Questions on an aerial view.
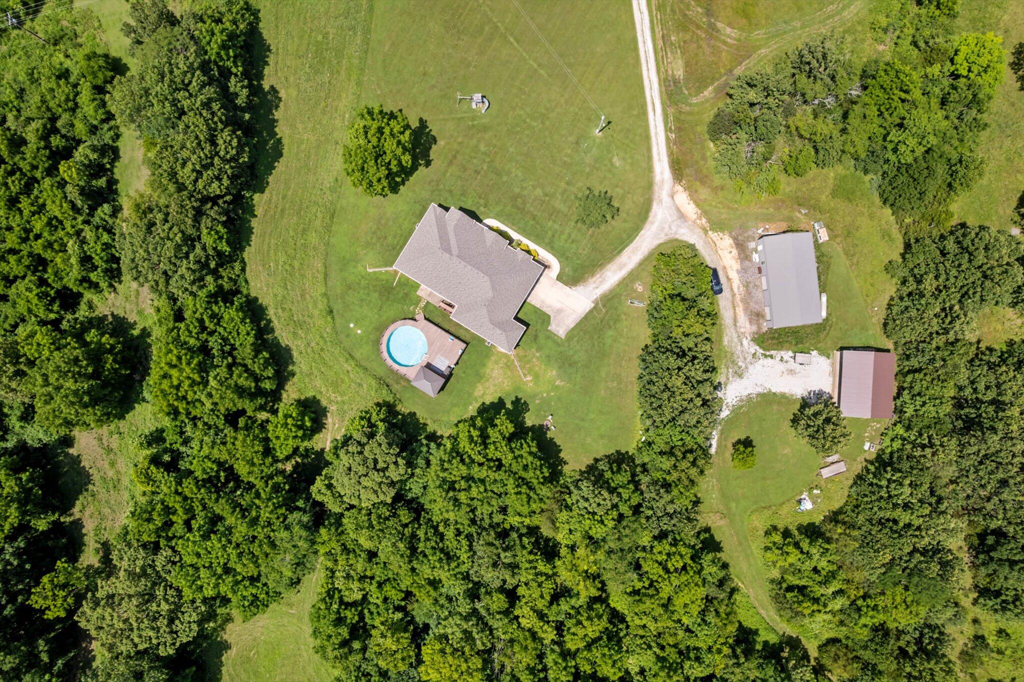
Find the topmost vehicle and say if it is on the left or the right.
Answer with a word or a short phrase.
right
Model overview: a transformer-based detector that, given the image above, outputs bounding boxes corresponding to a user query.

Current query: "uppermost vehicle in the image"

[812,219,834,244]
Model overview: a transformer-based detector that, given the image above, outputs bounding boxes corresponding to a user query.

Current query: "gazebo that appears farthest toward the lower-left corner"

[412,366,445,397]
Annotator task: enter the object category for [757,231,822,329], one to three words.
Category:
building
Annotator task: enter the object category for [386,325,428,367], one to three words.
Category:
swimming pool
